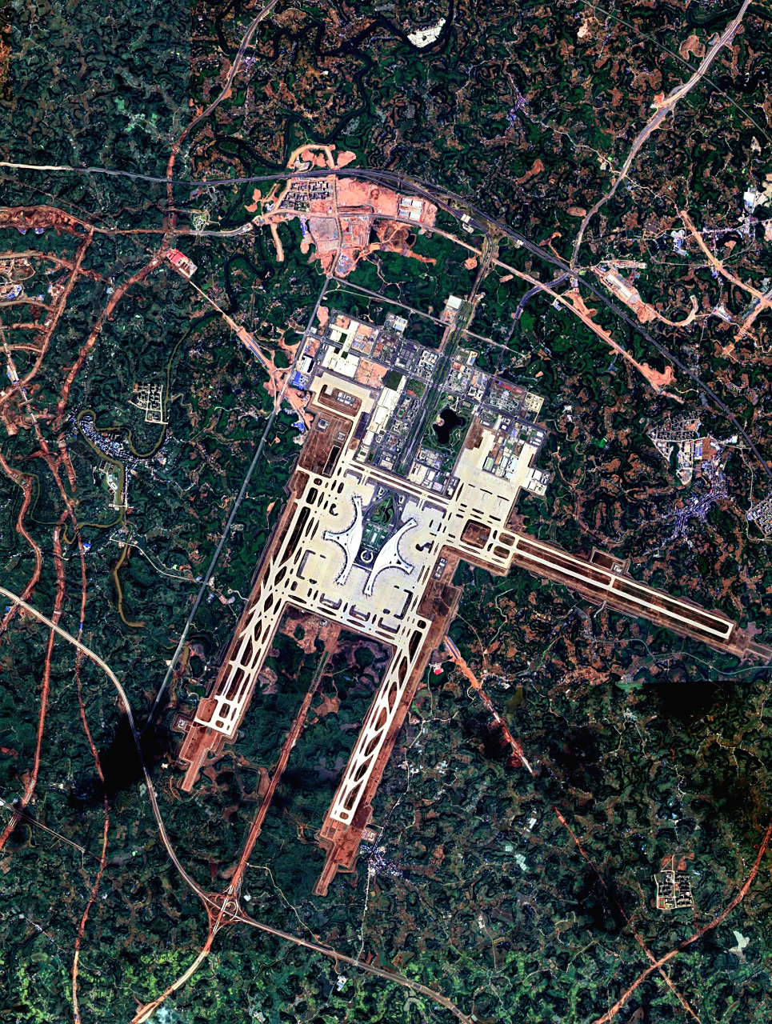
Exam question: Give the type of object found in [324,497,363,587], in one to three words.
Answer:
building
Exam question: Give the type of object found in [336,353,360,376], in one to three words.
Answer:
building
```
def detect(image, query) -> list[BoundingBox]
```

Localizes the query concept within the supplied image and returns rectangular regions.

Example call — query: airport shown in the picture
[171,373,772,895]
